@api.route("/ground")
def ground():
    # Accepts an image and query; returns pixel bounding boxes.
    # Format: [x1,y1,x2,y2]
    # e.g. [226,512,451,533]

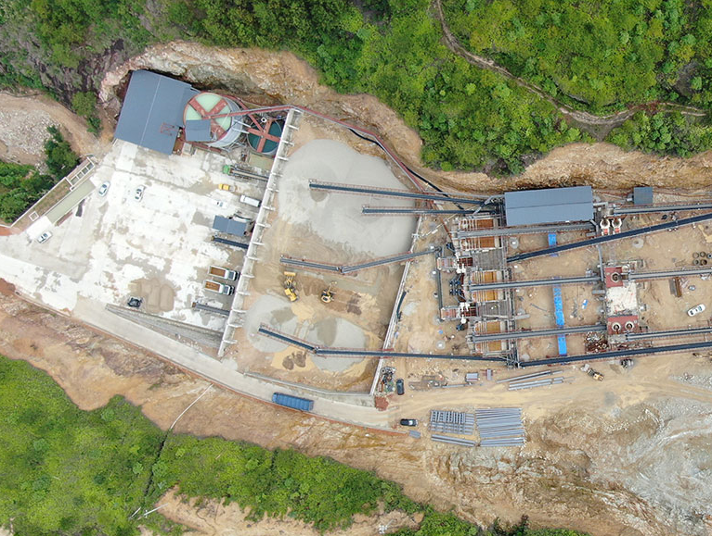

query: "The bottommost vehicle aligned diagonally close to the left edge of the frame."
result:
[34,231,52,245]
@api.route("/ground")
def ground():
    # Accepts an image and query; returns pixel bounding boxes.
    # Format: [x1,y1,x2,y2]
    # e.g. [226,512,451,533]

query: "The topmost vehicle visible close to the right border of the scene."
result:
[687,304,706,317]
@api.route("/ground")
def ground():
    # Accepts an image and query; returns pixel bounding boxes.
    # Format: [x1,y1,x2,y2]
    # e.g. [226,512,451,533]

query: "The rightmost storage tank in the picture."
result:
[246,118,285,154]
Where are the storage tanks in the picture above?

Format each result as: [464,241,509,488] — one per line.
[246,118,285,154]
[182,91,244,146]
